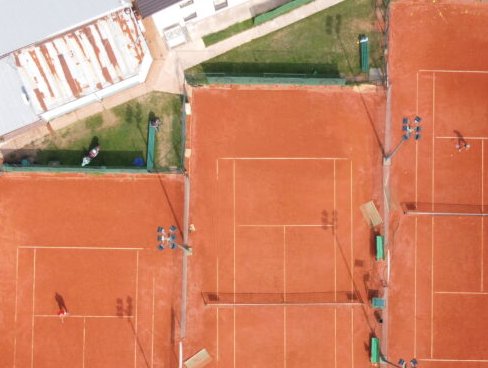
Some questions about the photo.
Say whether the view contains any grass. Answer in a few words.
Yes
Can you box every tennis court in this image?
[388,0,488,368]
[0,173,186,368]
[185,84,388,368]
